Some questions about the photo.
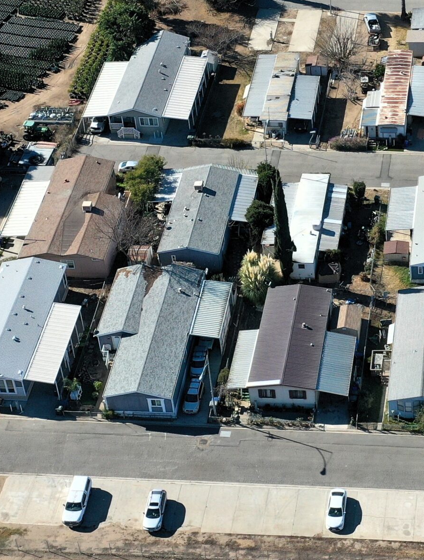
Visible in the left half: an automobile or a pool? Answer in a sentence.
There is an automobile in the left half.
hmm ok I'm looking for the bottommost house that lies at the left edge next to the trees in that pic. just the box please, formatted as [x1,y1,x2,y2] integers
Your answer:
[0,257,83,399]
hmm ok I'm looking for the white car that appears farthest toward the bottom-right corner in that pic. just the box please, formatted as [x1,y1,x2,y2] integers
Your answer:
[325,488,348,530]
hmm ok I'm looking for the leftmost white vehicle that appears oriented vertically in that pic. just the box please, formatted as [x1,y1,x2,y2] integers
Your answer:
[63,472,92,524]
